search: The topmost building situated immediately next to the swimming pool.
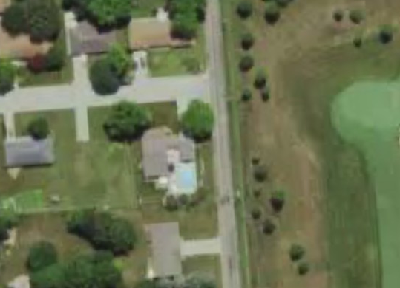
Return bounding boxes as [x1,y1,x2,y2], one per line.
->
[140,123,194,176]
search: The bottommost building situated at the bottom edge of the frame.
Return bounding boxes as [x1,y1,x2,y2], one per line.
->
[150,222,179,279]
